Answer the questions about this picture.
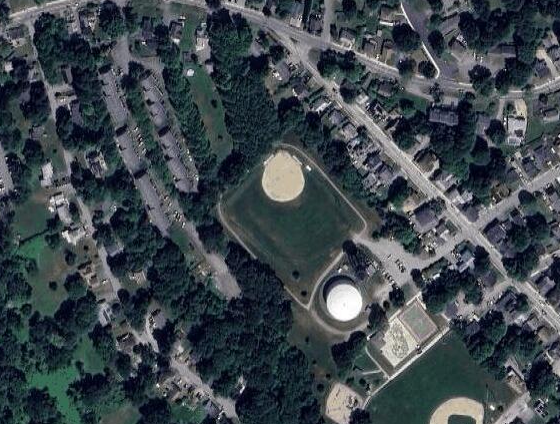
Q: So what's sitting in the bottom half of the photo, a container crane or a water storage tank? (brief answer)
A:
water storage tank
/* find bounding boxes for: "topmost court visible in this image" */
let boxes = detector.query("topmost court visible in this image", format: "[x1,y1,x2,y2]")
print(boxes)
[398,299,438,342]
